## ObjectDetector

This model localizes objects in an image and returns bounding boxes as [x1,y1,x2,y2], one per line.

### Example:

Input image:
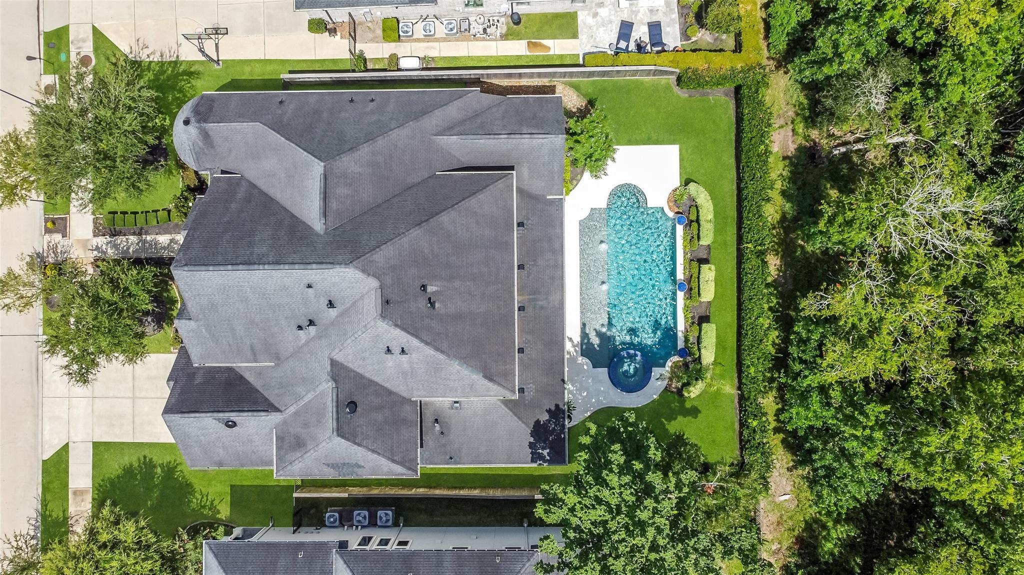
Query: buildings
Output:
[202,517,570,575]
[293,0,581,24]
[162,87,570,481]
